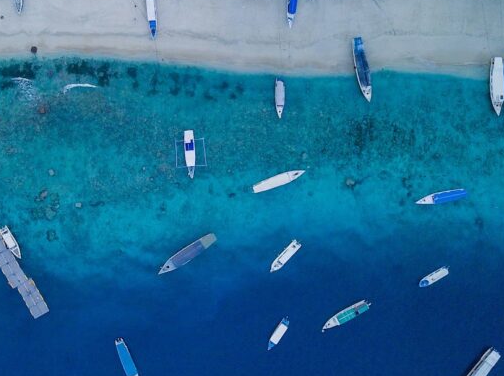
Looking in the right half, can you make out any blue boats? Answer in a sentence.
Yes, in the right half there is a blue boat.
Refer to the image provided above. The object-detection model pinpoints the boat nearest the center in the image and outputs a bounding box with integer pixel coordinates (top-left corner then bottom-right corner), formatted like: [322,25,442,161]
[249,171,306,193]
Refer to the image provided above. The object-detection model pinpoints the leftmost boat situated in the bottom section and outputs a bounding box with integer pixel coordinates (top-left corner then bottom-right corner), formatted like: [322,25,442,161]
[0,224,20,260]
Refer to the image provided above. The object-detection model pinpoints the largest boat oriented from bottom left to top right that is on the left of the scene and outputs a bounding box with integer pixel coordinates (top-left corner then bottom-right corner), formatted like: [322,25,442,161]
[158,234,218,275]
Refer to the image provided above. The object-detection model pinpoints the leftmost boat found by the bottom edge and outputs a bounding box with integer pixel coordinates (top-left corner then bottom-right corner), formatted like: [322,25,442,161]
[115,337,136,376]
